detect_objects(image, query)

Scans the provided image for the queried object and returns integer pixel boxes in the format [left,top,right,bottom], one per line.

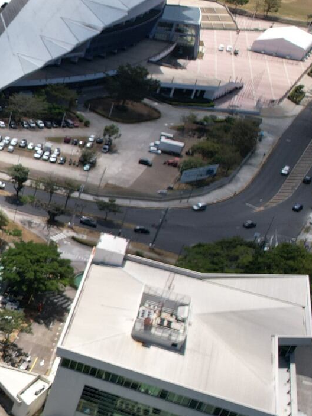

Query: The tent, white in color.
[251,22,312,60]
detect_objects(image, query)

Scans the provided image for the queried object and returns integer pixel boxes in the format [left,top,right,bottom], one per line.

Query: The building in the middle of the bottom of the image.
[41,234,312,416]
